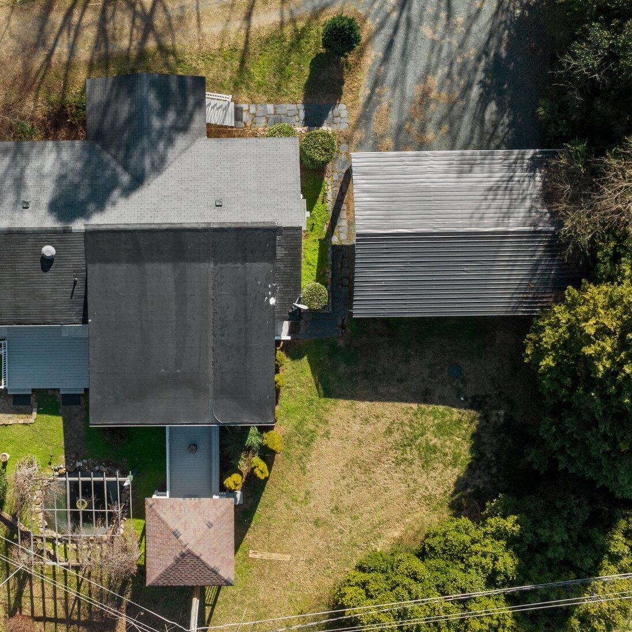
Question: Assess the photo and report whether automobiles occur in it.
No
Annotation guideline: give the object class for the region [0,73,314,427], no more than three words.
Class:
house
